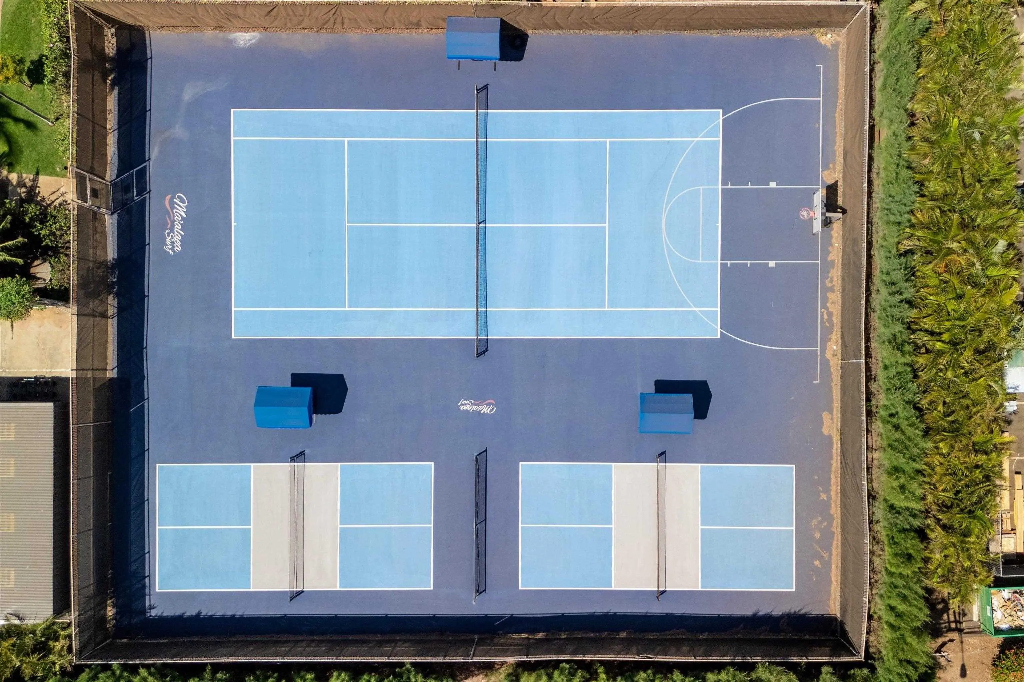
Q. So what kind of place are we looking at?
sports ground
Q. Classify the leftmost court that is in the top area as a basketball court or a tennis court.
tennis court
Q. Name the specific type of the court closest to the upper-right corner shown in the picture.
basketball court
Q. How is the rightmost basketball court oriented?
vertically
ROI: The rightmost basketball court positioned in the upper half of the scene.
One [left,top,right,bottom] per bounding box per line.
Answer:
[662,64,822,383]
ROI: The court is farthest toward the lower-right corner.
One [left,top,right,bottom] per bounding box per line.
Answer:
[519,462,795,591]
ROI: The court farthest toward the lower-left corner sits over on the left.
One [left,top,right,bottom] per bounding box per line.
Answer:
[156,463,433,592]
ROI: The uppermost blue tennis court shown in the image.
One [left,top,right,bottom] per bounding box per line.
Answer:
[231,109,722,339]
